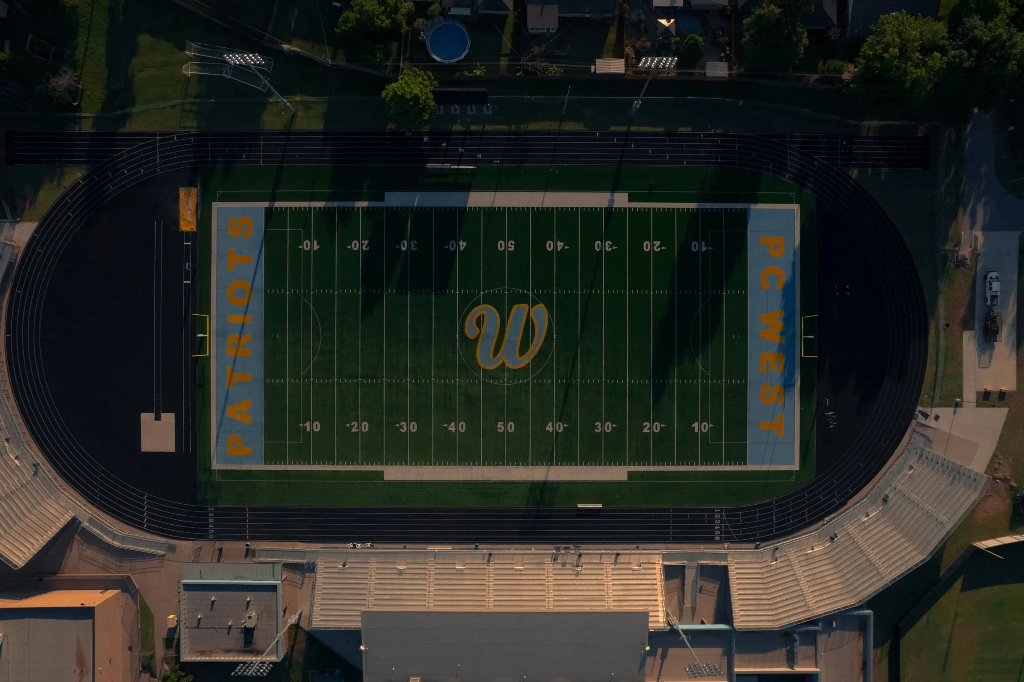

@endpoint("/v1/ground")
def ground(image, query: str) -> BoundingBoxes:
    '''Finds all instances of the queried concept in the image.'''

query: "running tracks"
[4,128,929,544]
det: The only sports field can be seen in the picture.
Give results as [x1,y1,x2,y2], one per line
[196,166,817,507]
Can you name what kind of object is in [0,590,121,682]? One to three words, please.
building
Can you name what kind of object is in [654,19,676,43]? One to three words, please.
gazebo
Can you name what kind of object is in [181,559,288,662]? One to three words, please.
building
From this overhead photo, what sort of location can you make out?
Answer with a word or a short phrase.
sports ground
